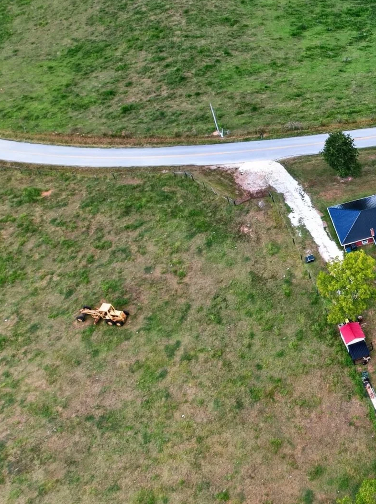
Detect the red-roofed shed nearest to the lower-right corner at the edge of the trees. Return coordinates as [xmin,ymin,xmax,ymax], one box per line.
[340,324,365,354]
